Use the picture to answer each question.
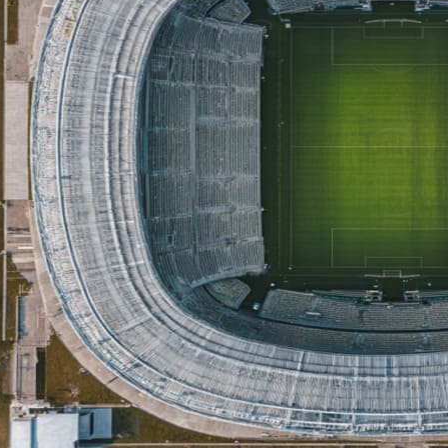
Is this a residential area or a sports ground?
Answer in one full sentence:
It's a sports ground.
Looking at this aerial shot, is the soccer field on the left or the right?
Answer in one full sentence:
The soccer field is on the right side of the image.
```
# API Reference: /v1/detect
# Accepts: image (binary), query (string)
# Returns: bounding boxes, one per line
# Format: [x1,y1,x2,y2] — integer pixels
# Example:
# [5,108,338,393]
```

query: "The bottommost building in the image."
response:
[12,403,114,448]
